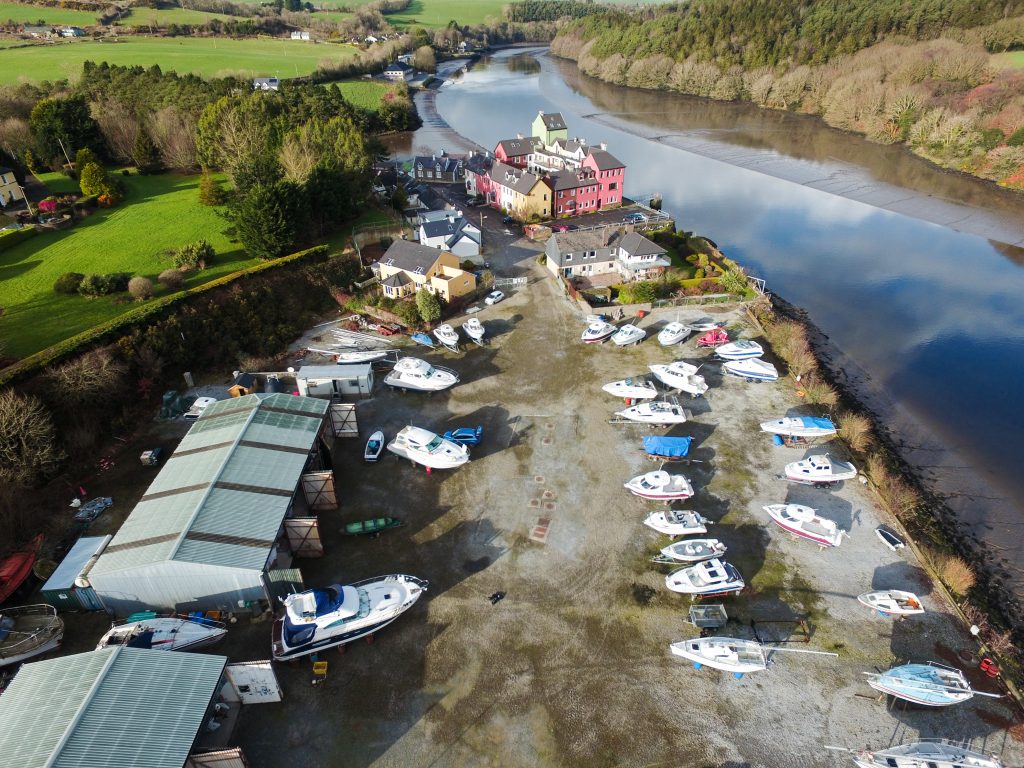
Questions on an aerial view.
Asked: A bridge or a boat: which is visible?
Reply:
boat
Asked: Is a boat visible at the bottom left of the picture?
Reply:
Yes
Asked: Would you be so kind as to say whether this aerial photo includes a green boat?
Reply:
Yes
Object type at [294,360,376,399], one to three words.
building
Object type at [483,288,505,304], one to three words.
car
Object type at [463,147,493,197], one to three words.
house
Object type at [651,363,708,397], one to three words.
boat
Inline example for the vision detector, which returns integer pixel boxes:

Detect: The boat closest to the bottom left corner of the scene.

[0,609,61,664]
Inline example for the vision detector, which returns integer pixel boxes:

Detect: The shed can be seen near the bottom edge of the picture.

[0,639,283,768]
